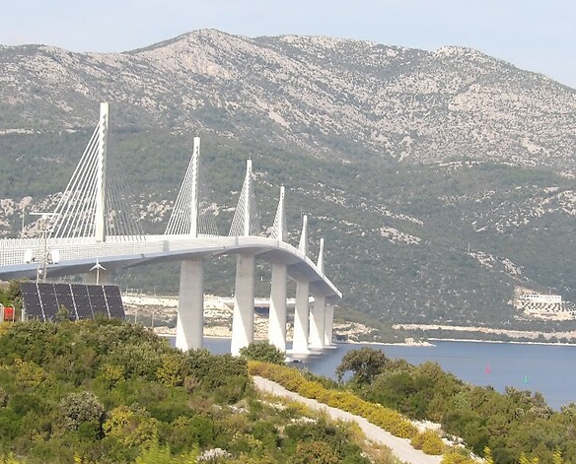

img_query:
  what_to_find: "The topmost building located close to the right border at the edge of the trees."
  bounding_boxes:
[518,295,561,313]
